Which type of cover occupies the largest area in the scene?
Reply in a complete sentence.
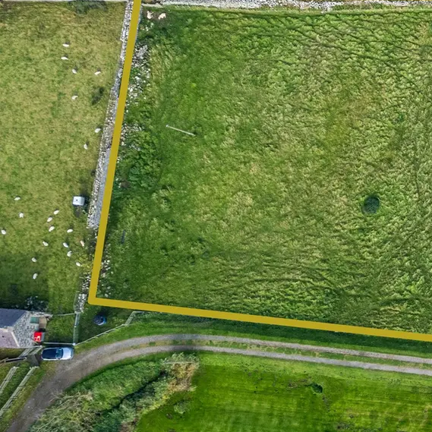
The bulk of the photo consists of grass.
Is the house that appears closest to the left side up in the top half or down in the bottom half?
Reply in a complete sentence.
It is in the bottom half that the house that appears closest to the left side appears.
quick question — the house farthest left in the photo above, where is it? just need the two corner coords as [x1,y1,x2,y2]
[0,303,37,344]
